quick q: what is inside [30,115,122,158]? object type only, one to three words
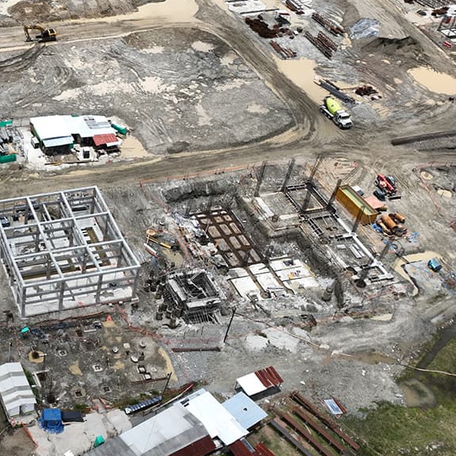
shed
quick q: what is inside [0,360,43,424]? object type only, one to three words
shed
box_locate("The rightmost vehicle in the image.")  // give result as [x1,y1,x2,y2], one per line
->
[374,173,408,198]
